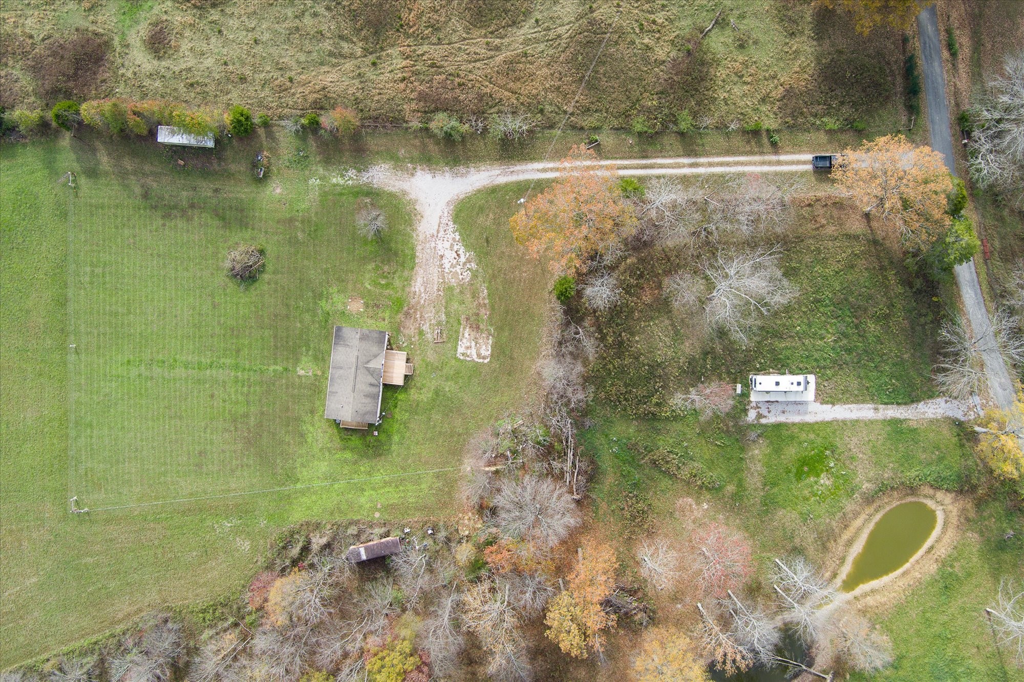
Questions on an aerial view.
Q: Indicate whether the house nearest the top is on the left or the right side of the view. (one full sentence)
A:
The house nearest the top sits on the left side.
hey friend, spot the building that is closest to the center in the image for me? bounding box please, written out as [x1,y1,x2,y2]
[324,326,388,423]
